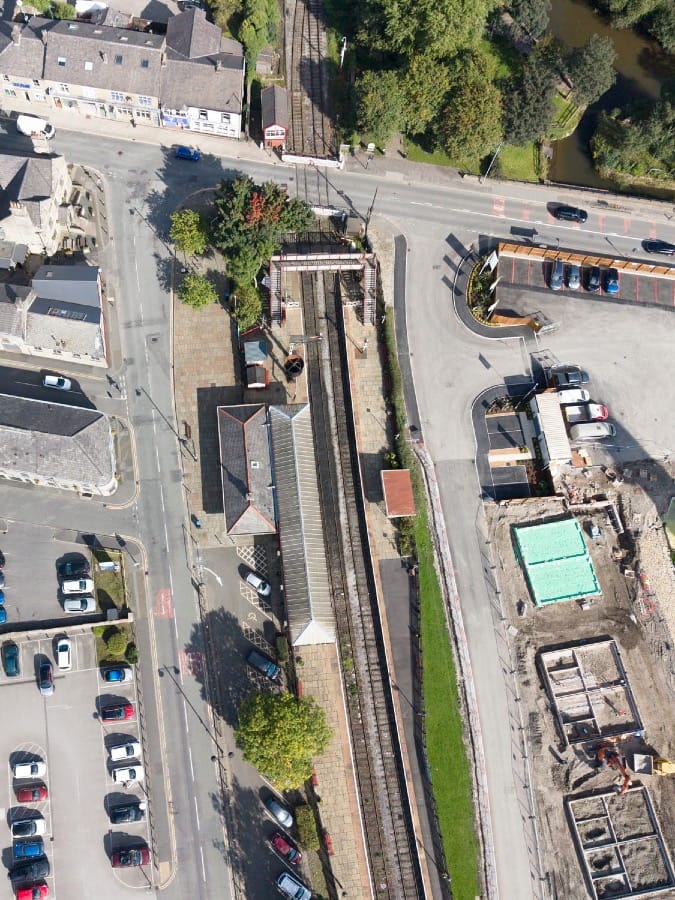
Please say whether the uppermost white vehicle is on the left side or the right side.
left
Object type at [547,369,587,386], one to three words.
vehicle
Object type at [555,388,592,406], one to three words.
car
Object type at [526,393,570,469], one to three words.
building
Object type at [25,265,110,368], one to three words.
building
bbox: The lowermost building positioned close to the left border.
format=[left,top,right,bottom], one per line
[0,396,119,505]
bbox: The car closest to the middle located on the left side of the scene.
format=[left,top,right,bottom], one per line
[244,569,274,599]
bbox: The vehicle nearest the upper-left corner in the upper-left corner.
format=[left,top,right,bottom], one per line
[16,113,54,138]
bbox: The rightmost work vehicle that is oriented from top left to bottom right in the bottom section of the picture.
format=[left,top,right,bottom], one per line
[588,740,633,794]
